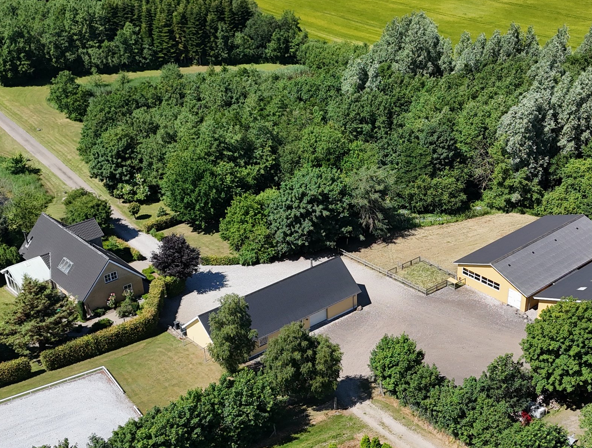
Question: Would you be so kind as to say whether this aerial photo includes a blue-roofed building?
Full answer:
No, there isn't any blue-roofed building down there.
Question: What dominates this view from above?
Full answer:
The largest share of the image is taken up by trees.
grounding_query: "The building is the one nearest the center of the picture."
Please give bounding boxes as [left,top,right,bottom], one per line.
[181,255,362,368]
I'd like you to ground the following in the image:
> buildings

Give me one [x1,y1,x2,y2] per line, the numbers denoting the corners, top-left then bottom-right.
[452,211,592,310]
[181,255,362,368]
[0,216,147,321]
